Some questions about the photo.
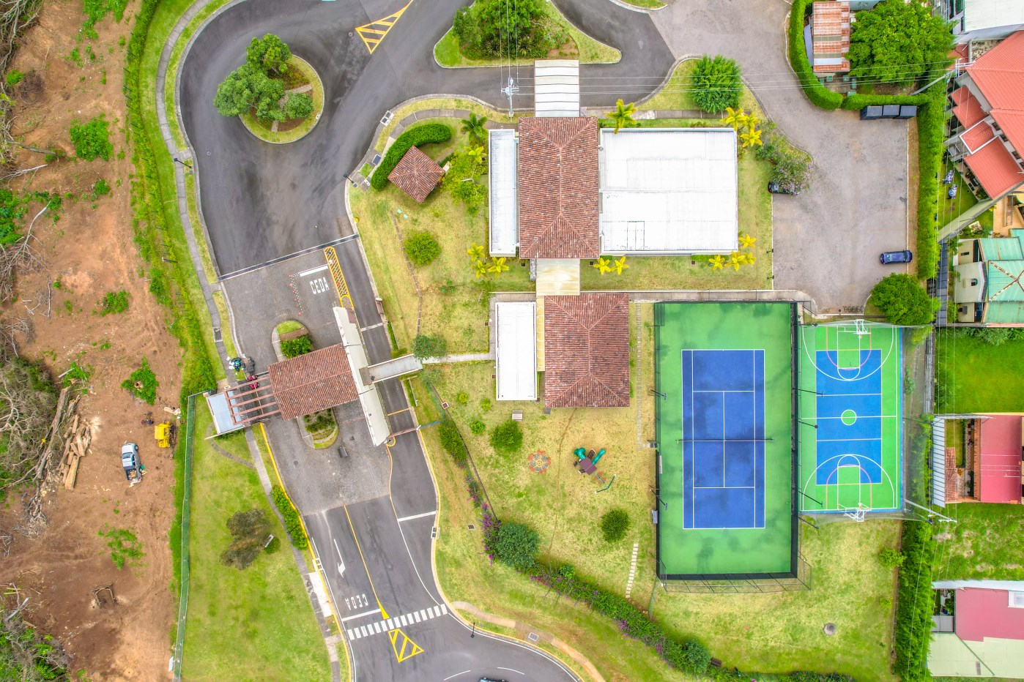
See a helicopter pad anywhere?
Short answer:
No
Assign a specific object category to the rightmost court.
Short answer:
basketball court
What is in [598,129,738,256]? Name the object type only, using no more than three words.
building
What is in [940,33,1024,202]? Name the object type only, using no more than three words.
house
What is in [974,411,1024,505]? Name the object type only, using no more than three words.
house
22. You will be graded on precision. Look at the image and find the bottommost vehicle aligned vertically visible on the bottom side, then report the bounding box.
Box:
[116,443,140,487]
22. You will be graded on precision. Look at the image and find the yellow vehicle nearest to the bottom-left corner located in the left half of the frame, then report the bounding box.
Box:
[148,425,178,447]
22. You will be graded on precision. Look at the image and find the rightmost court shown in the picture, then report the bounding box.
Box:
[799,325,903,515]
